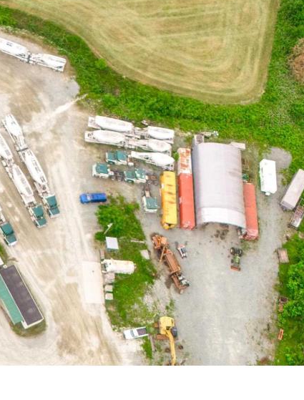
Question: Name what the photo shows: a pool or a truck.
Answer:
truck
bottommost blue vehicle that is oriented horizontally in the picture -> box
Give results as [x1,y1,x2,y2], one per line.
[78,193,107,206]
